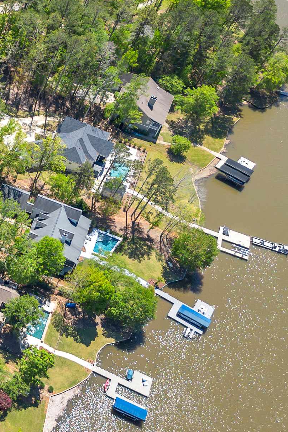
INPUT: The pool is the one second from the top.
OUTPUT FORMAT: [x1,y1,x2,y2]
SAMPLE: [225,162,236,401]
[80,227,123,260]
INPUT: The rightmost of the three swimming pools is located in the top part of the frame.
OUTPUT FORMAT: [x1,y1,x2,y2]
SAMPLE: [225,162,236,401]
[112,146,141,190]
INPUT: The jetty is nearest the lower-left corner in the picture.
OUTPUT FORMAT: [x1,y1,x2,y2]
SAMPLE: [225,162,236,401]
[93,366,153,426]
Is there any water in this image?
Yes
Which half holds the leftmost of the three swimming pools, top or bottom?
bottom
